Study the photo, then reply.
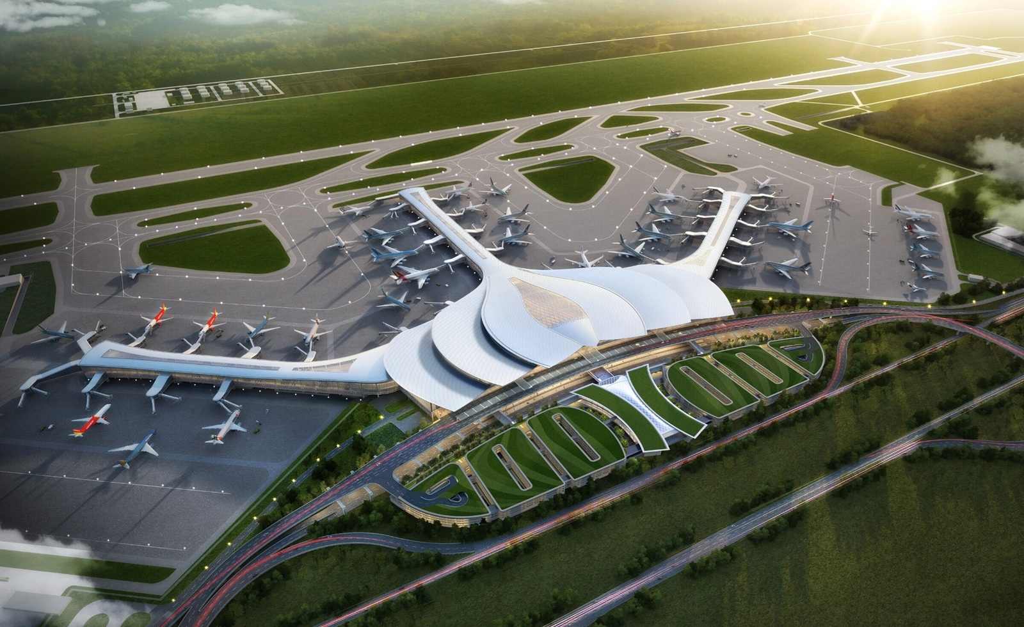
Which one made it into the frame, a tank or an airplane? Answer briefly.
airplane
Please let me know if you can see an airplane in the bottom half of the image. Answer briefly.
Yes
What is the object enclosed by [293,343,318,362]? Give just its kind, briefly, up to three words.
jet bridge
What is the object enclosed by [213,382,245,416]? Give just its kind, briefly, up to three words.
jet bridge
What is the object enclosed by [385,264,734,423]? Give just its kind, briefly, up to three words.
building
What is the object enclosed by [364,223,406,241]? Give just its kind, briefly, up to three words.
airplane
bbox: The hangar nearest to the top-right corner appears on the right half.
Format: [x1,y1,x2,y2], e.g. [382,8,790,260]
[980,225,1024,255]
